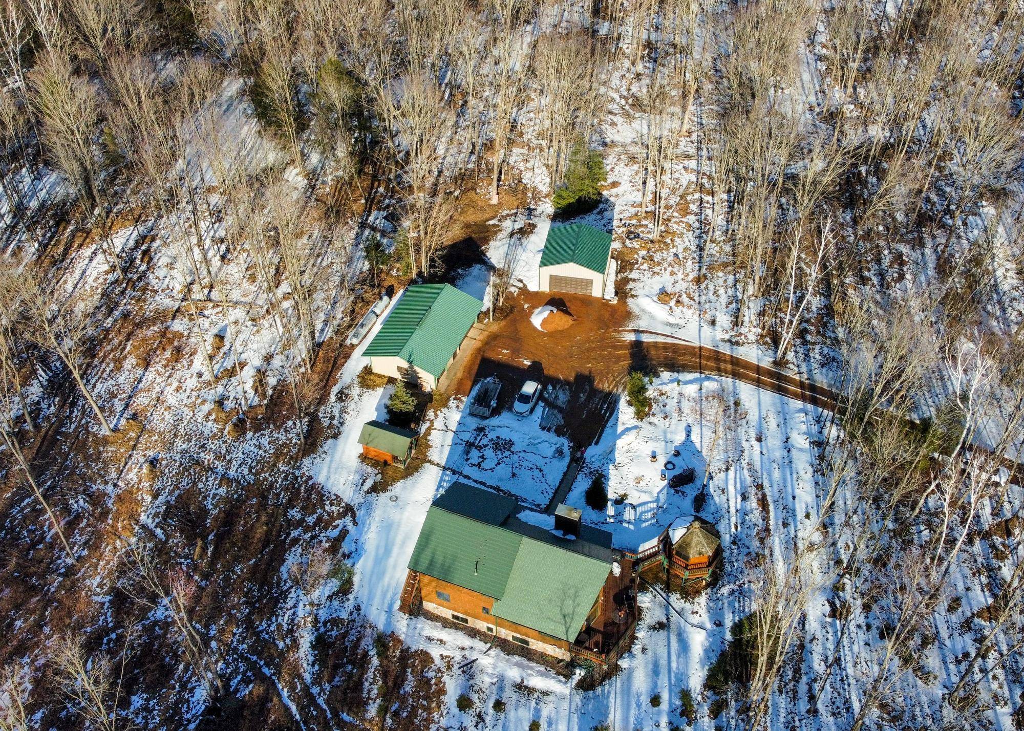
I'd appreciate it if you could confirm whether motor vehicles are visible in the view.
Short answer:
Yes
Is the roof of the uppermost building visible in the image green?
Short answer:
Yes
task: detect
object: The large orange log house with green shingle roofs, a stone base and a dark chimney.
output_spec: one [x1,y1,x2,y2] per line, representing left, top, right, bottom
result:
[405,481,615,662]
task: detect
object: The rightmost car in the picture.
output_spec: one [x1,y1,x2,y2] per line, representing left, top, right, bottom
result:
[513,376,545,416]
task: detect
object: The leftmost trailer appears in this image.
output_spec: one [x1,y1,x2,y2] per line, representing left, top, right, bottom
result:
[468,373,501,414]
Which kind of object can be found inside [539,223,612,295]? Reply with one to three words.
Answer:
building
